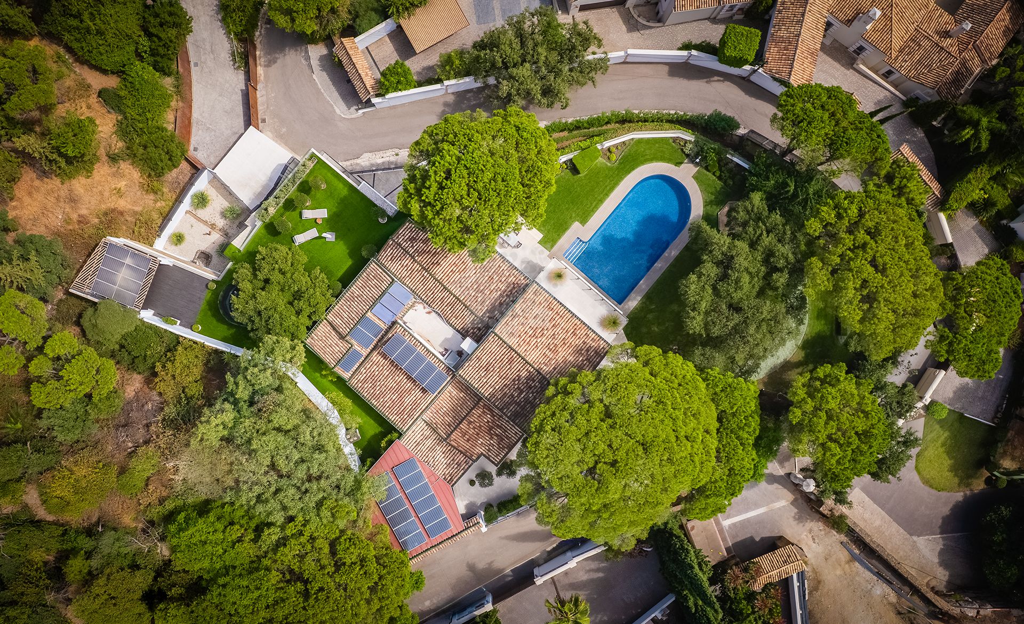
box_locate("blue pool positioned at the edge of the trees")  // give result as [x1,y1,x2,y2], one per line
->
[563,173,692,305]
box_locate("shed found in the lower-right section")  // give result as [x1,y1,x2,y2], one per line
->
[743,541,807,592]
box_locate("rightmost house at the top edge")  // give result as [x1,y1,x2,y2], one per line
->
[824,0,1024,104]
